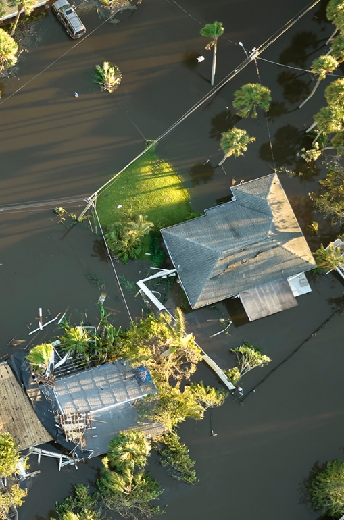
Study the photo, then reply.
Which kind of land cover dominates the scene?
water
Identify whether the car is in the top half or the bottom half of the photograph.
top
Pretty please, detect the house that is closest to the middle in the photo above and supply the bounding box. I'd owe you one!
[160,173,318,309]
